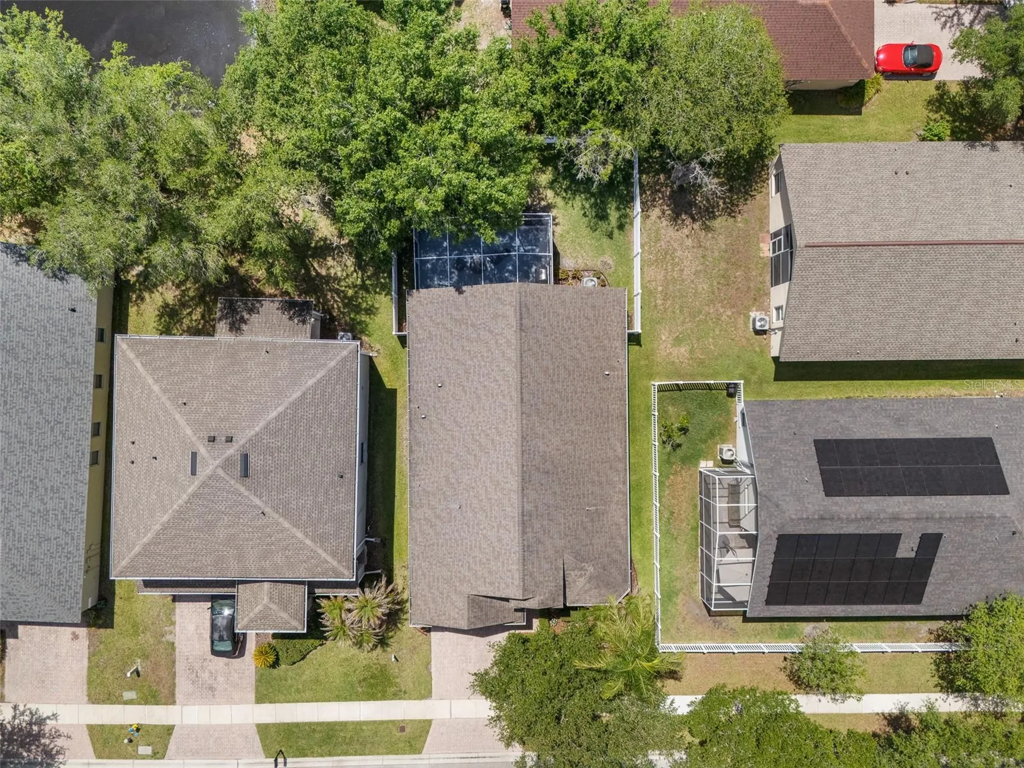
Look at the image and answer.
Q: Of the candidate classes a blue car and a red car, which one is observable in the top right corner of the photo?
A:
red car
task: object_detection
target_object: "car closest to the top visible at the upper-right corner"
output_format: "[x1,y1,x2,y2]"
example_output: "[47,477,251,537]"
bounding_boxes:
[875,40,942,78]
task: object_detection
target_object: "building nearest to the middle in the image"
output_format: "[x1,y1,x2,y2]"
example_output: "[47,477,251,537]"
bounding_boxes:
[406,283,631,634]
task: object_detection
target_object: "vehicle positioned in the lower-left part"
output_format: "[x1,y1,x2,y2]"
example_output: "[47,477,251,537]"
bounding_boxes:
[205,594,244,659]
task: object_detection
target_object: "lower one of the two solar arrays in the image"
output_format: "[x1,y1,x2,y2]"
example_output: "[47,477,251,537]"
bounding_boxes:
[766,534,941,605]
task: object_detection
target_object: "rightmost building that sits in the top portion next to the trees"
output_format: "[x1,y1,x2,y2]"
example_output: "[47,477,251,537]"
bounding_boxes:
[771,142,1024,361]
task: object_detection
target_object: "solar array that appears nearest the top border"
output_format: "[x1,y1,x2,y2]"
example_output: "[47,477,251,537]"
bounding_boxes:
[810,439,1008,496]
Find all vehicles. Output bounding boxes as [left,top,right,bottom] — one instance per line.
[875,40,942,78]
[205,594,244,659]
